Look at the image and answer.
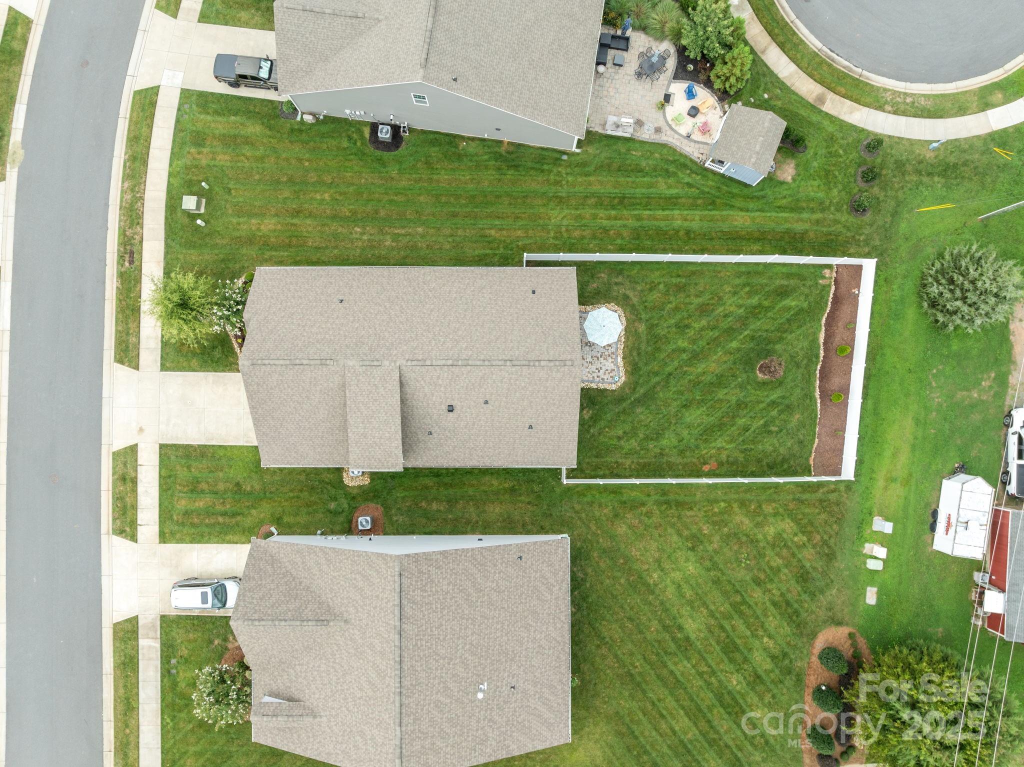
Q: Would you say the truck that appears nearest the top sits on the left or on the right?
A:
left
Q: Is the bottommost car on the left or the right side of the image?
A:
left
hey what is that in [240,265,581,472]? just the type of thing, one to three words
house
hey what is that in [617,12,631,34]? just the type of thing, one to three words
umbrella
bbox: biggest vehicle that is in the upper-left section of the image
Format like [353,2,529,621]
[213,53,279,92]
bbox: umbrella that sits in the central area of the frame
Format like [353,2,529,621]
[583,309,622,347]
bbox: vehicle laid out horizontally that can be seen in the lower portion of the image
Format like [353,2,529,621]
[173,579,242,612]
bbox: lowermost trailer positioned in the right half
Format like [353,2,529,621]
[932,459,993,560]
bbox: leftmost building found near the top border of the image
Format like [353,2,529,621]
[273,0,605,157]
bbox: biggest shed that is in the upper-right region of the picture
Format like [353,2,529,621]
[707,102,786,184]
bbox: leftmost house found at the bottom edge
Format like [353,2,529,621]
[231,520,571,767]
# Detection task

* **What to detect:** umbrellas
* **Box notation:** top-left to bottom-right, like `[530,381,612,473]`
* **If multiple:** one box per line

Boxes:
[650,46,661,61]
[617,12,631,34]
[583,309,622,347]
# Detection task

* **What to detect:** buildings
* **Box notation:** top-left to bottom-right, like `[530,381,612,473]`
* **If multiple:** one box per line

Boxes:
[707,102,786,184]
[960,507,1024,644]
[273,0,605,157]
[240,265,581,472]
[231,520,571,767]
